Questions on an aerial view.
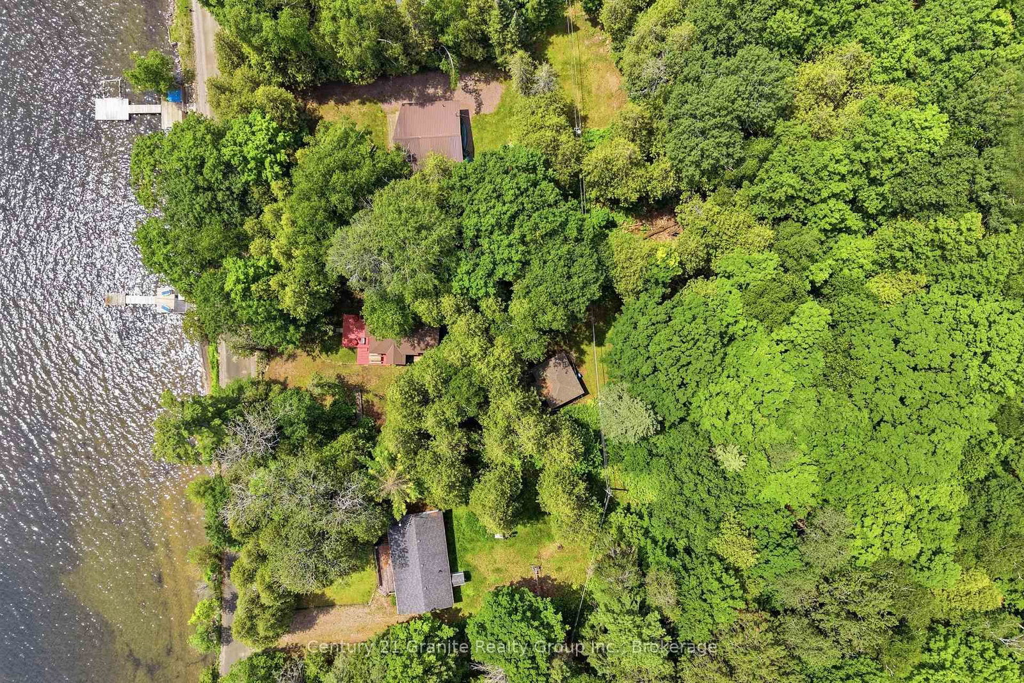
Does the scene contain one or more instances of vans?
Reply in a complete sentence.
No, no van is visible in the scene.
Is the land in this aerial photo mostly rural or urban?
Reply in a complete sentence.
It looks rural.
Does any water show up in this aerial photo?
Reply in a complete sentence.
Yes, there is water in the image.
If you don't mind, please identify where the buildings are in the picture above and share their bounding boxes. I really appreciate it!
[341,312,439,365]
[532,352,585,409]
[377,509,466,614]
[391,95,462,182]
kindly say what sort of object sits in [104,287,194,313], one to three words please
pier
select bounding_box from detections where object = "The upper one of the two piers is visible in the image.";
[95,89,185,130]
